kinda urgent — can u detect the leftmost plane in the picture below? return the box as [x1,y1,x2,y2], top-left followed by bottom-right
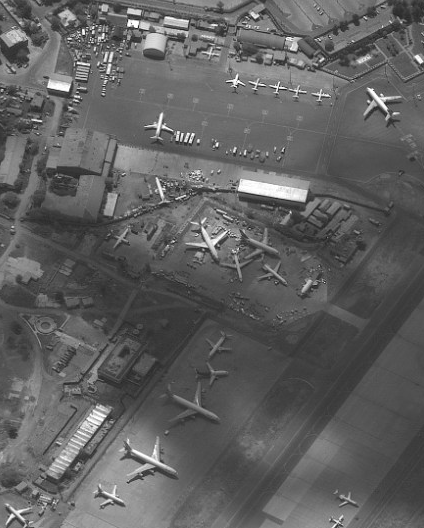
[6,503,33,528]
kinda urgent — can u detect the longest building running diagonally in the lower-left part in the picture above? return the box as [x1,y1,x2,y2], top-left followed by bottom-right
[48,405,113,483]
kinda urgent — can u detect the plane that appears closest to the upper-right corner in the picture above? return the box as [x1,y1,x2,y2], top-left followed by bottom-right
[367,88,401,124]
